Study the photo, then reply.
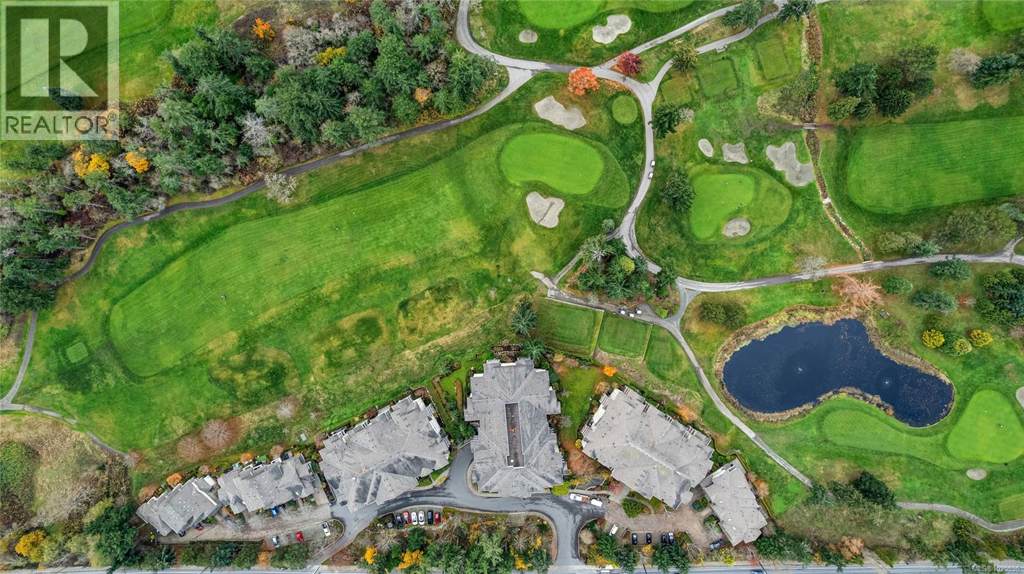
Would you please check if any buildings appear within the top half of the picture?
No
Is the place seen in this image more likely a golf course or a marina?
golf course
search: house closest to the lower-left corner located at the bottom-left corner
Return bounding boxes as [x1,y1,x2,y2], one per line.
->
[136,471,224,542]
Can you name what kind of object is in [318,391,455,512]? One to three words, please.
building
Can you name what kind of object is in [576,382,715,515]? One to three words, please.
building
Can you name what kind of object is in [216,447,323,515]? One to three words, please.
house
